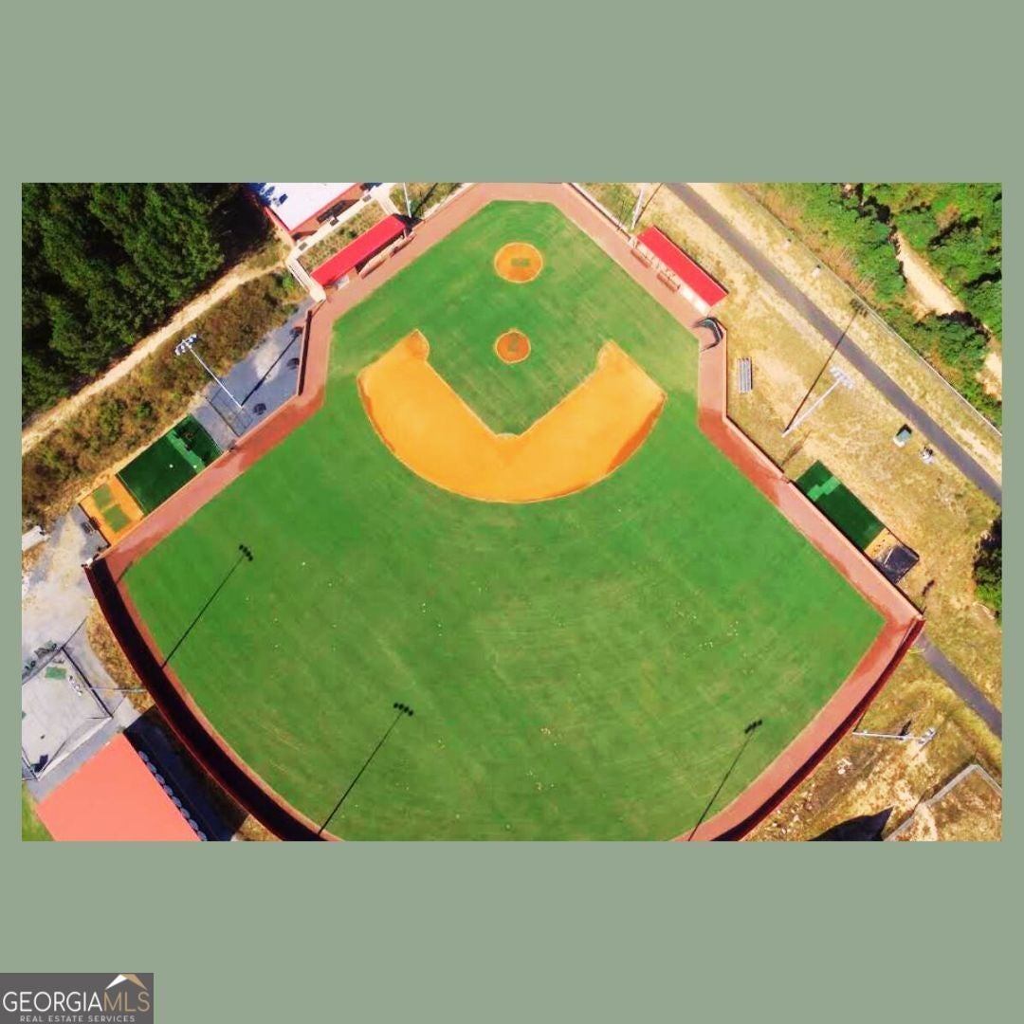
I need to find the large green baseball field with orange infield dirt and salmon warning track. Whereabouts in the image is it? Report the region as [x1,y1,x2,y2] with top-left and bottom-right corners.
[96,182,924,925]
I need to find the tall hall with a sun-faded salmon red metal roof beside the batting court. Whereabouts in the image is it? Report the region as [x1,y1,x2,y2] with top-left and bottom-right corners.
[36,733,273,1001]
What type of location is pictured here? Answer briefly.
sports ground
